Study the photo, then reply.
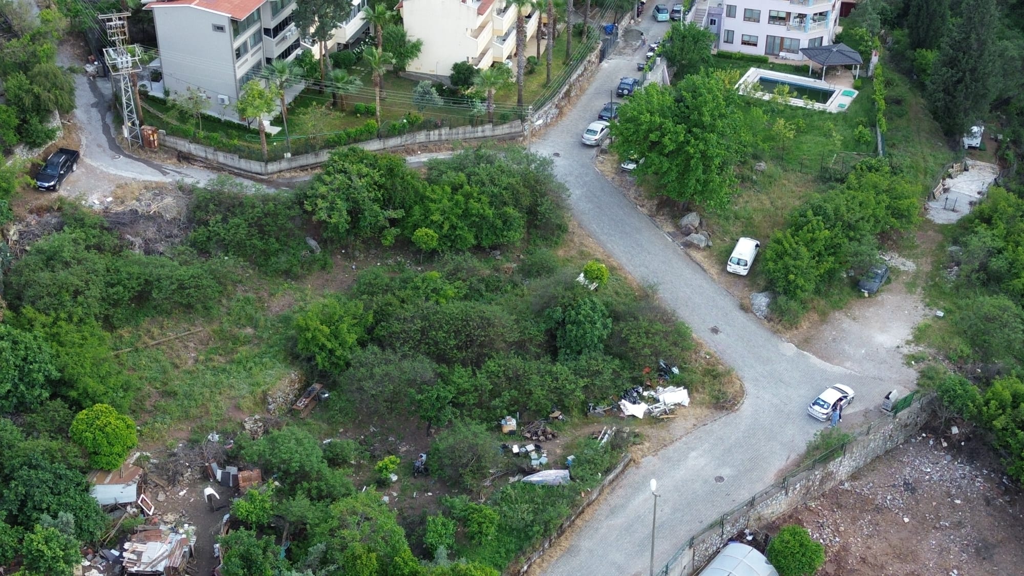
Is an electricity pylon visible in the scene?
Yes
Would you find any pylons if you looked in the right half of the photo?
No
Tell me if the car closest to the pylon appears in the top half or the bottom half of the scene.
top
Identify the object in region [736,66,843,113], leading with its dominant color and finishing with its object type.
white swimming pool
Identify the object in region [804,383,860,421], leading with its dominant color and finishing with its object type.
white car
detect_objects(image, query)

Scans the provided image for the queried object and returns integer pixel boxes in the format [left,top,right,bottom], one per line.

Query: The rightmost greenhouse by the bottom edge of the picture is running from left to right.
[693,539,781,576]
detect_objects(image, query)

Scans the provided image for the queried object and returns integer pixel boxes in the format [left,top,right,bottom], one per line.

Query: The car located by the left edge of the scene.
[37,145,81,185]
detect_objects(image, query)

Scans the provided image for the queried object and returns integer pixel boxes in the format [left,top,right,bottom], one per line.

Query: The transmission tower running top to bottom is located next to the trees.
[84,16,142,151]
